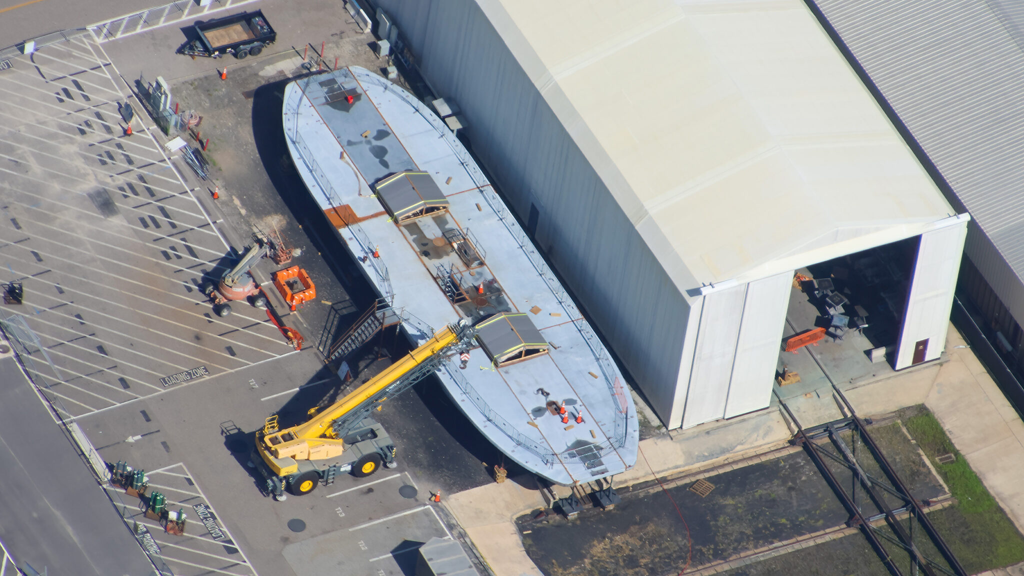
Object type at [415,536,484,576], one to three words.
trailer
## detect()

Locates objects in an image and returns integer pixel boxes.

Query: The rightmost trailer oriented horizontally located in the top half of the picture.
[171,12,276,63]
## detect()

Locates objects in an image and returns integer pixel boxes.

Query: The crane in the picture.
[253,311,478,503]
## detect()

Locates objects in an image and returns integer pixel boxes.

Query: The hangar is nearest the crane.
[374,0,973,431]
